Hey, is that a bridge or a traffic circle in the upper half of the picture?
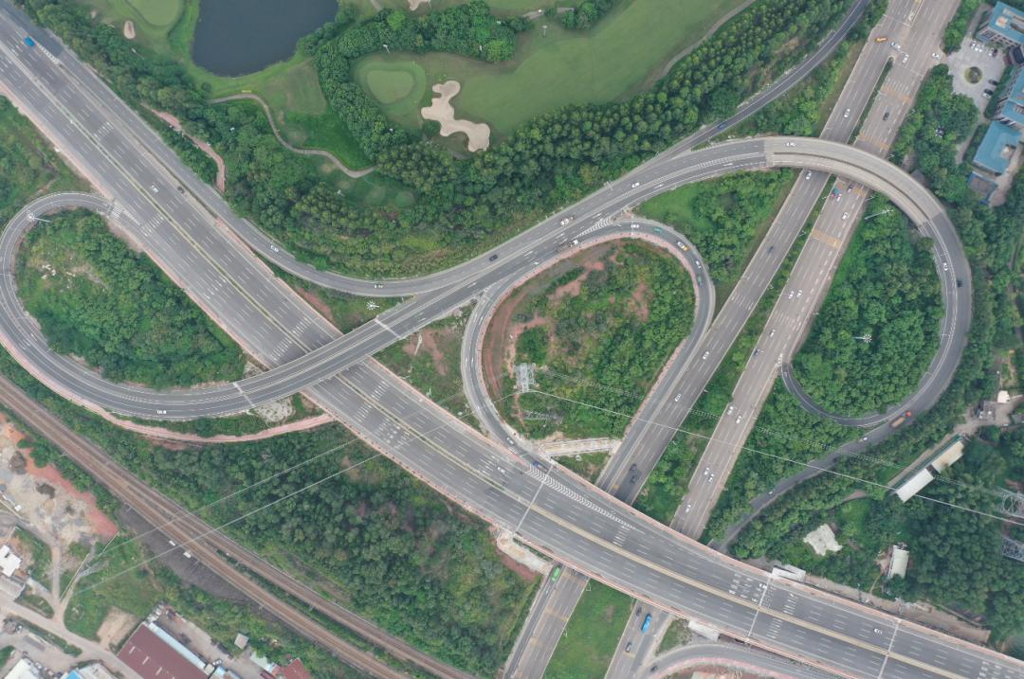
bridge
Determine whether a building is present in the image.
Yes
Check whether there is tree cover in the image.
Yes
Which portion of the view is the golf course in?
top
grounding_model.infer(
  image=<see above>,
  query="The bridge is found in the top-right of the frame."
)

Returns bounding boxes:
[764,136,945,225]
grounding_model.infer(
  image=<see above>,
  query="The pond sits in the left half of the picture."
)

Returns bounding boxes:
[191,0,338,76]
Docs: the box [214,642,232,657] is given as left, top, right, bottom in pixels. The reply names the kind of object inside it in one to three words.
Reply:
vehicle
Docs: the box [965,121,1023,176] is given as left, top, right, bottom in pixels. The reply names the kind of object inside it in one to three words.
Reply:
building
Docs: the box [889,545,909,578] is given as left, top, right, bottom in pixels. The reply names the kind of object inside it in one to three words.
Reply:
house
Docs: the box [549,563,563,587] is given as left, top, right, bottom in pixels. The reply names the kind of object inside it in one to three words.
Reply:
vehicle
